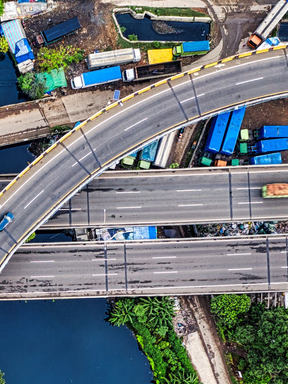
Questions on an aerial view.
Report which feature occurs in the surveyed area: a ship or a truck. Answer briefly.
truck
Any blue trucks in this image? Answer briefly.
Yes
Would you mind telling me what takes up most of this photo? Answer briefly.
paved ground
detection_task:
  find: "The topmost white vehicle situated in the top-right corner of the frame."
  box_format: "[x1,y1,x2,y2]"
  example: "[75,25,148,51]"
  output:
[241,0,288,50]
